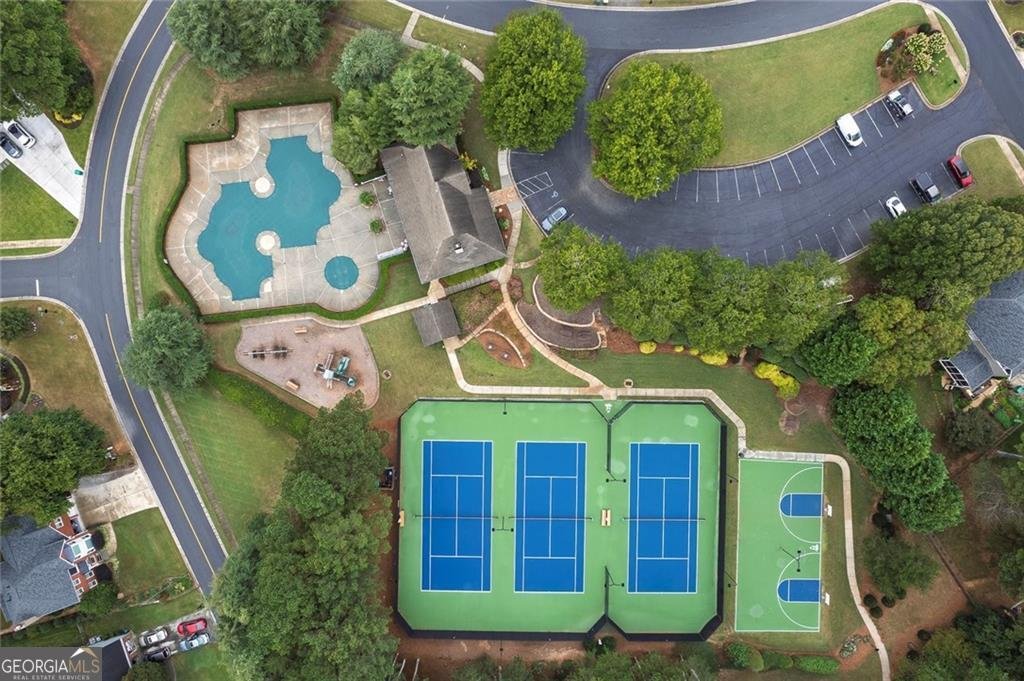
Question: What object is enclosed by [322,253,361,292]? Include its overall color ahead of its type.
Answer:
blue swimming pool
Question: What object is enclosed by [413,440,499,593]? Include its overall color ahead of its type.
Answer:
blue tennis court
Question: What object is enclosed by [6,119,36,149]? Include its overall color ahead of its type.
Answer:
white car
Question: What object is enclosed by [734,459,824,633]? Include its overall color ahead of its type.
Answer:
green basketball court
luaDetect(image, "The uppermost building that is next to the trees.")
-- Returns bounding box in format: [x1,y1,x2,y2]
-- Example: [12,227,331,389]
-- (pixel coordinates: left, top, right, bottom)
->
[382,133,506,284]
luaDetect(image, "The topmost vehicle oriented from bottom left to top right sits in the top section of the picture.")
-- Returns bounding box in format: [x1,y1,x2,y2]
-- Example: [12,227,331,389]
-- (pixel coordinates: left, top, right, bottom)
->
[540,204,571,232]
